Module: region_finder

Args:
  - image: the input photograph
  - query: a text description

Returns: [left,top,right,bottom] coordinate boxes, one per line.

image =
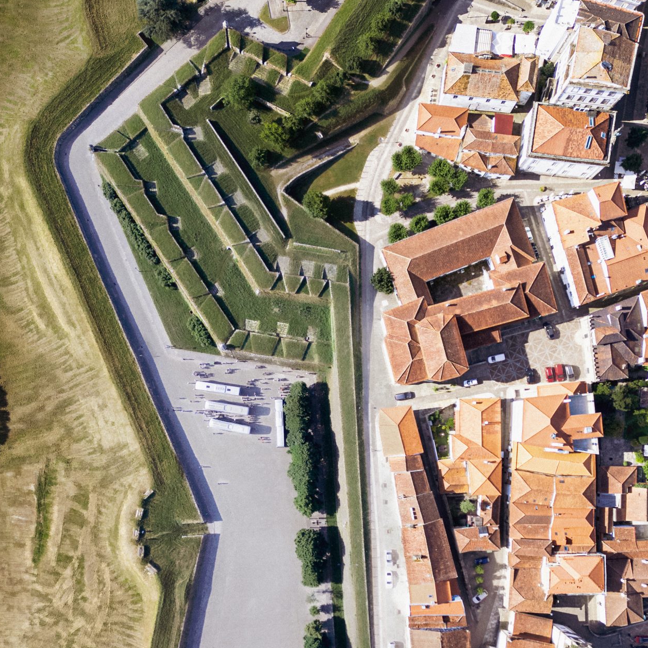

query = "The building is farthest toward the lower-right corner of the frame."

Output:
[597,591,644,627]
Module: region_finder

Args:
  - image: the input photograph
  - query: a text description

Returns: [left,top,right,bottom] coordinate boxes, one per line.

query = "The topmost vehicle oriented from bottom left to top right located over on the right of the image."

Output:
[471,589,487,604]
